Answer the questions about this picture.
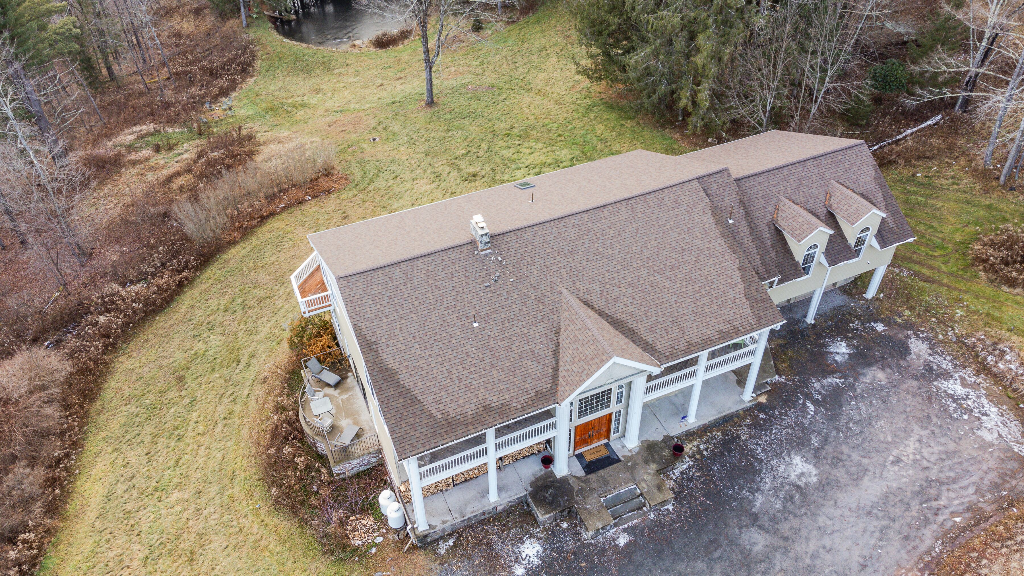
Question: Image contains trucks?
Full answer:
No, I can see no truck in this picture.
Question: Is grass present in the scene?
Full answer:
Yes, there's grass in this view.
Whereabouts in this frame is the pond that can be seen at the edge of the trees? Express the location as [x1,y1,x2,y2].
[250,0,420,50]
